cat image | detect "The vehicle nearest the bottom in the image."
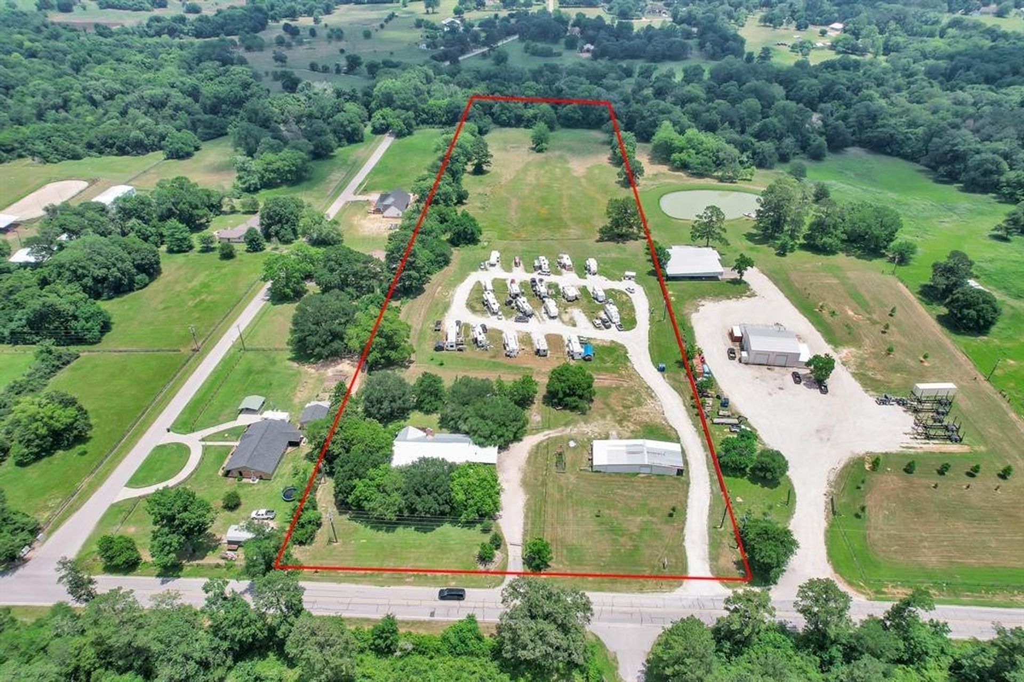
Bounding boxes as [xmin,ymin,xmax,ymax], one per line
[438,587,465,601]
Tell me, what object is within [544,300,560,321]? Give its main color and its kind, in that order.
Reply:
white vehicle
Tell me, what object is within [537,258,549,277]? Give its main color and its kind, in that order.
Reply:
white vehicle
